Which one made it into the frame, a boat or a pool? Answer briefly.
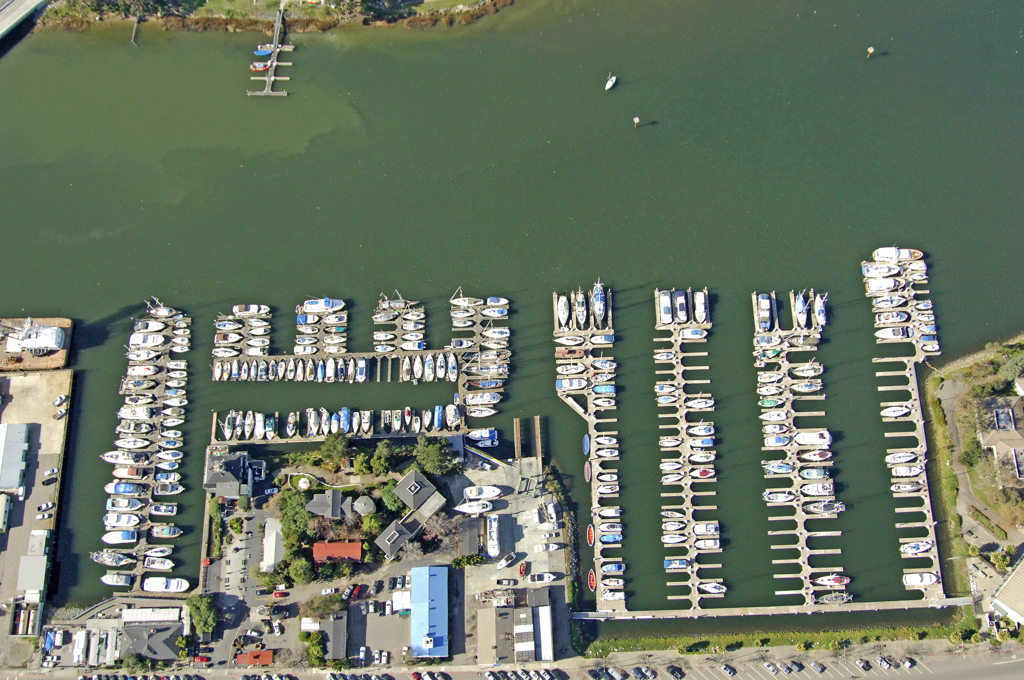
boat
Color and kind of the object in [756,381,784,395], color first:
white boat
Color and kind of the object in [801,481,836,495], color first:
white boat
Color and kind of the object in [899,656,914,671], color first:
white vehicle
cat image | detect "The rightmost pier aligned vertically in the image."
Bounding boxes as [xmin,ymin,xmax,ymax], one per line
[861,260,945,599]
